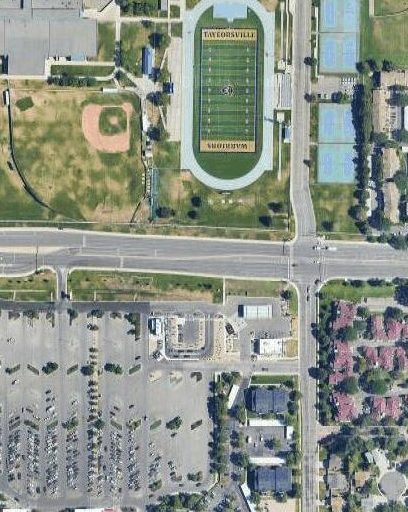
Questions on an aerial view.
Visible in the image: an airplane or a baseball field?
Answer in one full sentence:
I can see a baseball field in this picture.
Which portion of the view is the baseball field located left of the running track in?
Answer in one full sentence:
You can find the baseball field located left of the running track in the top left area of the picture.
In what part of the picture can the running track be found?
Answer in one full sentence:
Look in the top portion of the view to spot the running track.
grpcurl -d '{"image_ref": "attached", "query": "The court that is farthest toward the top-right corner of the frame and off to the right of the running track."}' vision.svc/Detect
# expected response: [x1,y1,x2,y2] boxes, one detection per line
[341,0,358,29]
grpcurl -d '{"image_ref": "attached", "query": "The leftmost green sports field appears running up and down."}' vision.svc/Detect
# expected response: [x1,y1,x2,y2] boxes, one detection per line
[193,0,264,180]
